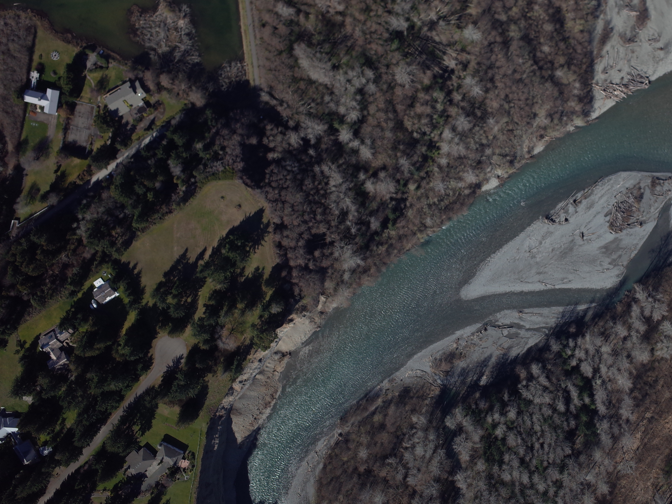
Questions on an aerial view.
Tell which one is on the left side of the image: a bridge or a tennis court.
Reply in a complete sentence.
Looking on the left side of the image, you will find a tennis court.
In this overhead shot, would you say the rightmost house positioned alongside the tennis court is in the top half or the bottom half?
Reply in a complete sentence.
The rightmost house positioned alongside the tennis court sits in the top half of the picture.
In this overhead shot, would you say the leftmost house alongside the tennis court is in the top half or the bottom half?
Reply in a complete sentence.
The leftmost house alongside the tennis court sits in the top half of the picture.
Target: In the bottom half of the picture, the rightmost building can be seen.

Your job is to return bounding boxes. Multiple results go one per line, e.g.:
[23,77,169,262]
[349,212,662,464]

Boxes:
[124,440,187,478]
